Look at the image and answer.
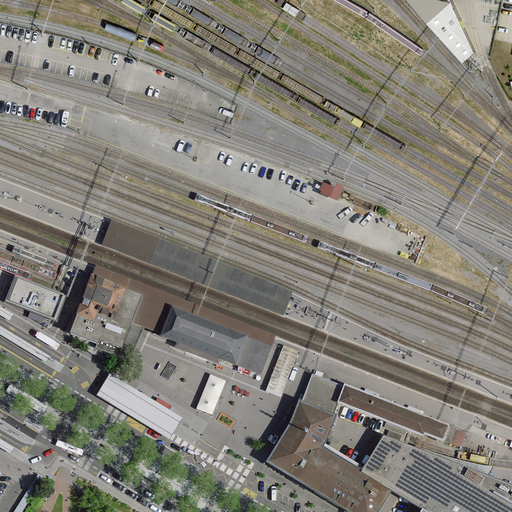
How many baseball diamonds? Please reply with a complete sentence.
The count of baseball diamonds is 0.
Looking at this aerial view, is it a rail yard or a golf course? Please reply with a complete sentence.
It's a rail yard.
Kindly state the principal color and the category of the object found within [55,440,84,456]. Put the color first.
white vehicle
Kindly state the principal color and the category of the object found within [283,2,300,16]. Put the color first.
white rail car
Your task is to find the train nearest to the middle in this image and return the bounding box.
[194,194,310,243]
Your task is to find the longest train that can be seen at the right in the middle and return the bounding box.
[312,239,489,314]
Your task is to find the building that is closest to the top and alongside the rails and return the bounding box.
[408,0,477,70]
